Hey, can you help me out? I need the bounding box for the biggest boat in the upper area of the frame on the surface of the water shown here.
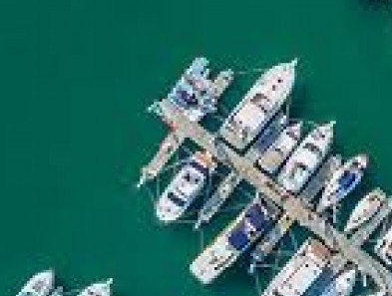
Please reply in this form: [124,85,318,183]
[221,59,296,151]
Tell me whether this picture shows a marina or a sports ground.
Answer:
marina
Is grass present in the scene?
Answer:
No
